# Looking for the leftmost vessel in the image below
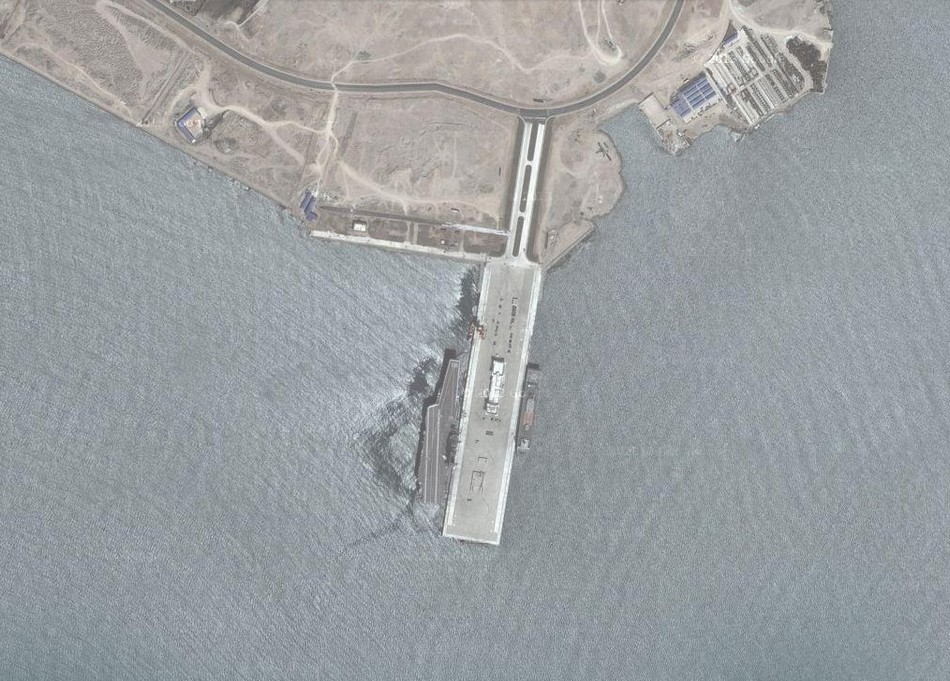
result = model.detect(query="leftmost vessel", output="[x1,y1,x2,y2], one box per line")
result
[417,351,466,516]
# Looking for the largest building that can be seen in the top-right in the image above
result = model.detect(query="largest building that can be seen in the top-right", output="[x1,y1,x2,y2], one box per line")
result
[675,77,720,117]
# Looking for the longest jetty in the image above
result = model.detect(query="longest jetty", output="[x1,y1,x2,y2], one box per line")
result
[443,266,541,545]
